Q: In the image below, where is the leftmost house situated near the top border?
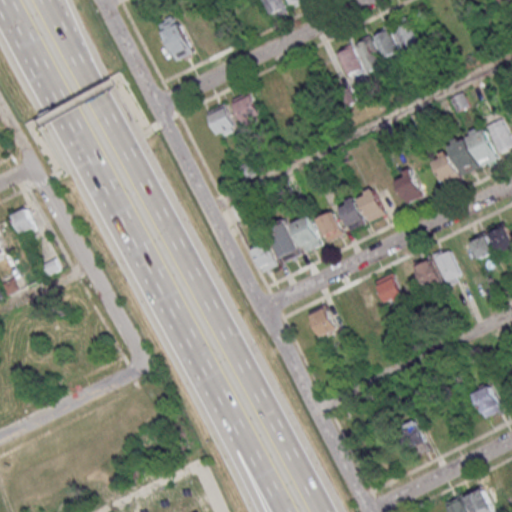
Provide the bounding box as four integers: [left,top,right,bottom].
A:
[160,17,194,63]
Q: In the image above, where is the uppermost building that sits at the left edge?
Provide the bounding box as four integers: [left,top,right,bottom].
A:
[10,206,40,236]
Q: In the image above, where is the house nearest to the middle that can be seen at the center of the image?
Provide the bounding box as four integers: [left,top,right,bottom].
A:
[252,242,280,273]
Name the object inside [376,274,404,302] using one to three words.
house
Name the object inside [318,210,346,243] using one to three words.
house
